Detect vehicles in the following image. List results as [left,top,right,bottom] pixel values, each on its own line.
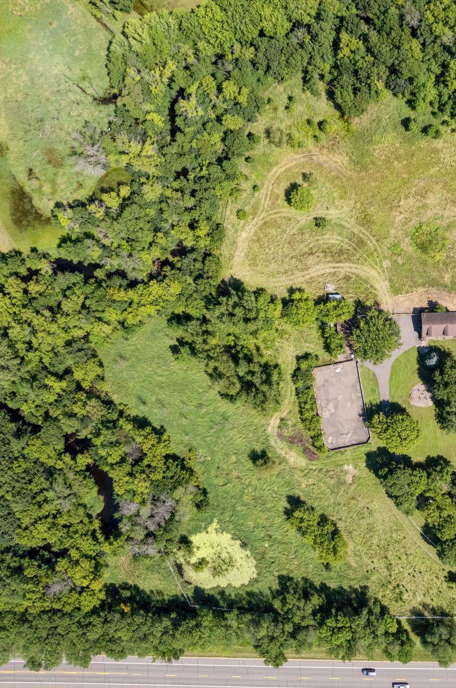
[392,682,410,688]
[362,667,376,676]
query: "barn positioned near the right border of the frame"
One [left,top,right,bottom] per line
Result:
[421,312,456,340]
